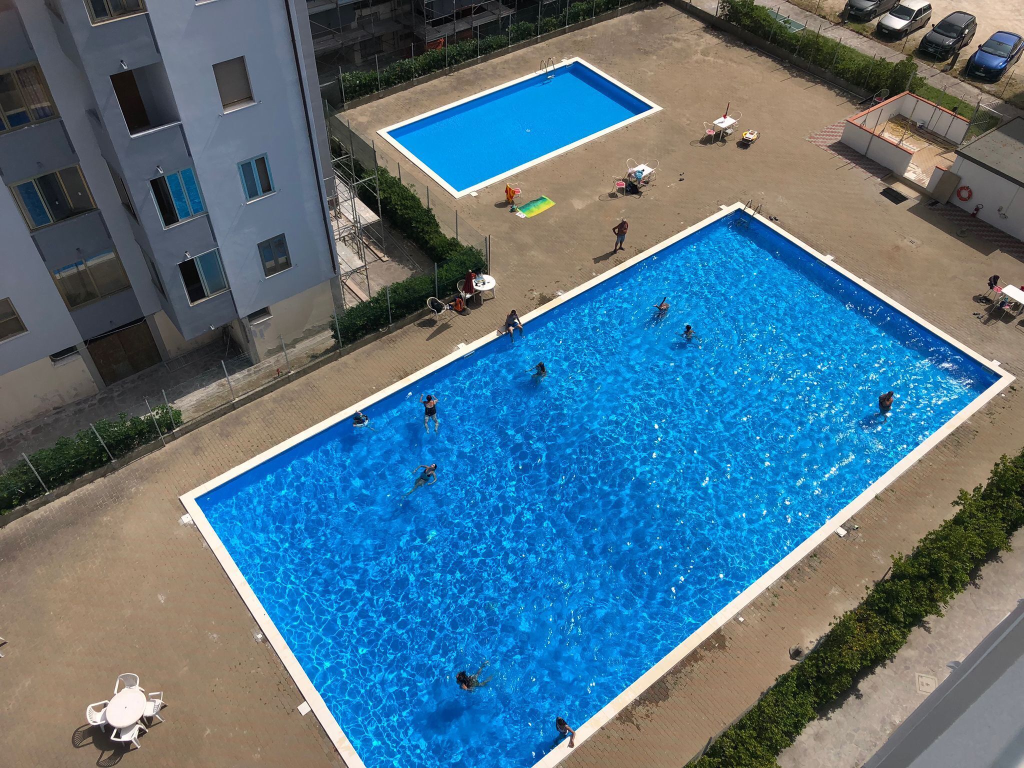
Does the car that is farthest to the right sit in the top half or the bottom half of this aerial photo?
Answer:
top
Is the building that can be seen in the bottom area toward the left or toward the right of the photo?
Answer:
right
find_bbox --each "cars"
[843,0,898,23]
[969,32,1024,83]
[921,8,988,63]
[880,0,936,40]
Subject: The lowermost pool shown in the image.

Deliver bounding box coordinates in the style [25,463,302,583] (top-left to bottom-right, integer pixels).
[178,202,1015,768]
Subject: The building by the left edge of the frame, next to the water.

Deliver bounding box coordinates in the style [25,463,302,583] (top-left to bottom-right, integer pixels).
[0,0,341,435]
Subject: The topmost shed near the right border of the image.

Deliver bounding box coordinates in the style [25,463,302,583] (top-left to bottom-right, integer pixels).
[943,109,1024,242]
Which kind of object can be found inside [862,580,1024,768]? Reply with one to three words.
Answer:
building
